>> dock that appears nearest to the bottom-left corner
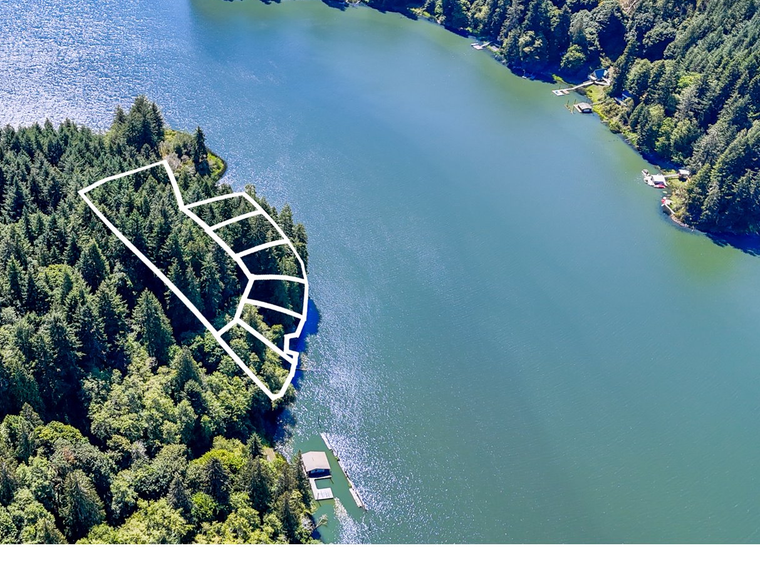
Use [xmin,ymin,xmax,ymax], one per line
[310,474,334,500]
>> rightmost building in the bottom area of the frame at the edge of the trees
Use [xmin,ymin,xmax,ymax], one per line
[301,451,330,475]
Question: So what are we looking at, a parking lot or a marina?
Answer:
marina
